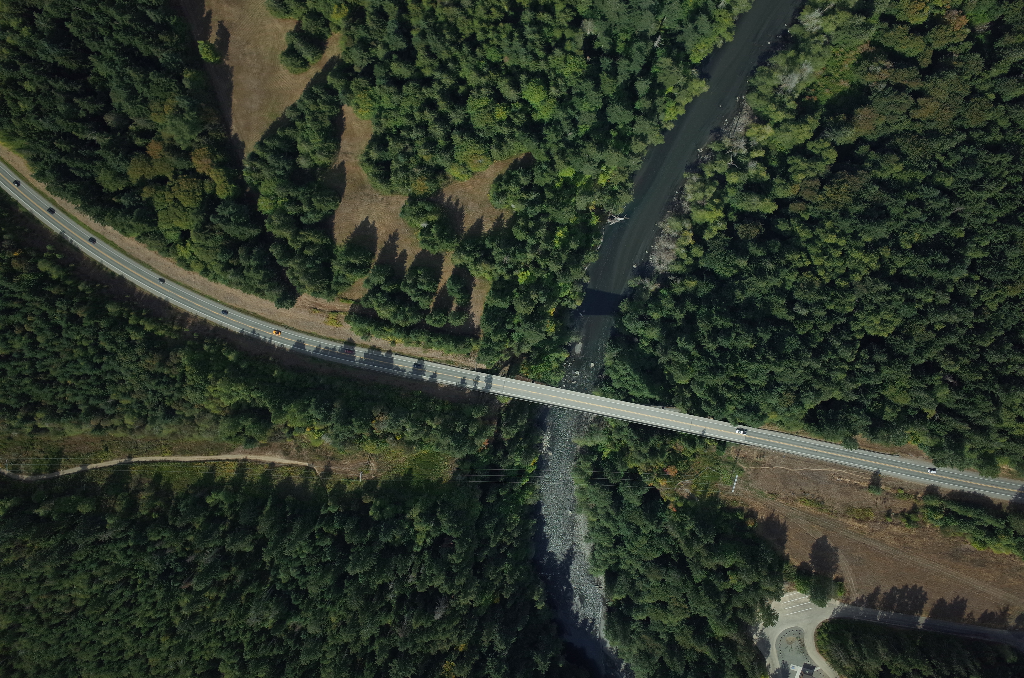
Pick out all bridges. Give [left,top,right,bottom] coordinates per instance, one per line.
[501,376,748,445]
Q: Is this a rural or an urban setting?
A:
rural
